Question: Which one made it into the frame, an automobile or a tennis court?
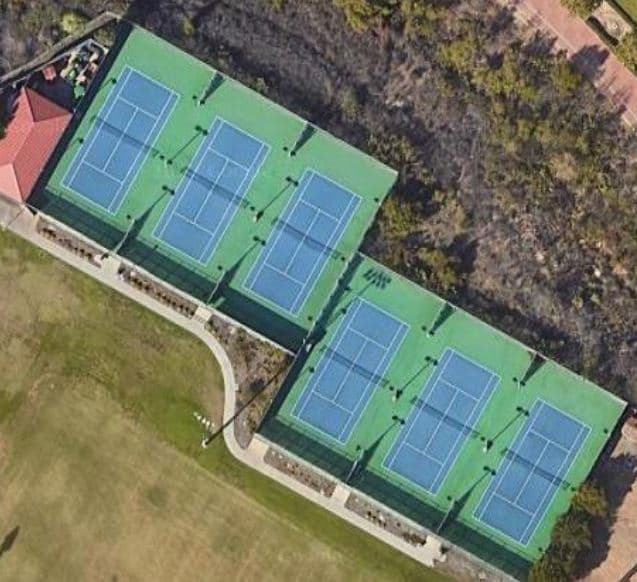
tennis court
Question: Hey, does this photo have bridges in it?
No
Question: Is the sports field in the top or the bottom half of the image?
bottom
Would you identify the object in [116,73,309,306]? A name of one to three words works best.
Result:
tennis court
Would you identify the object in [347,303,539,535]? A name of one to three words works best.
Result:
tennis court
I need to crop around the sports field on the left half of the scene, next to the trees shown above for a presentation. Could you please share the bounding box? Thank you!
[0,229,457,582]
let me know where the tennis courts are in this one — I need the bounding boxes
[207,123,398,356]
[258,254,447,486]
[29,23,217,256]
[116,73,309,306]
[347,303,539,535]
[437,354,627,582]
